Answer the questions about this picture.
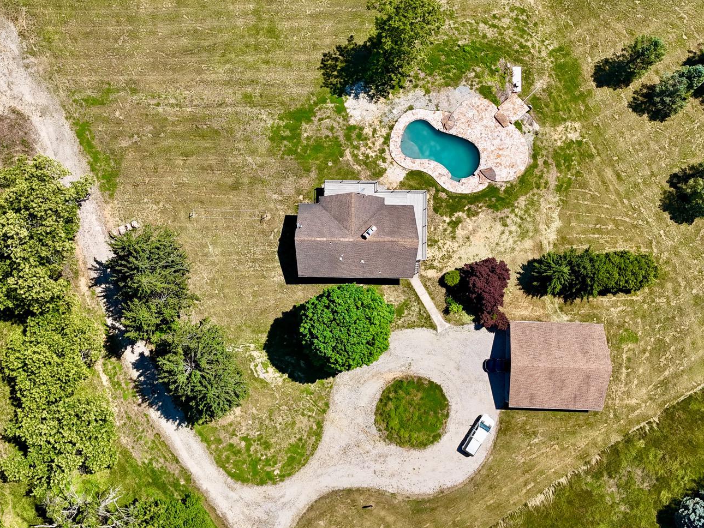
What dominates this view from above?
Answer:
grass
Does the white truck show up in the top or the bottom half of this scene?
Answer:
bottom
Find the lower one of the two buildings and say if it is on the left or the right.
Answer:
right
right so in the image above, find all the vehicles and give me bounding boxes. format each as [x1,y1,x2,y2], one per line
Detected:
[461,413,492,458]
[482,359,511,374]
